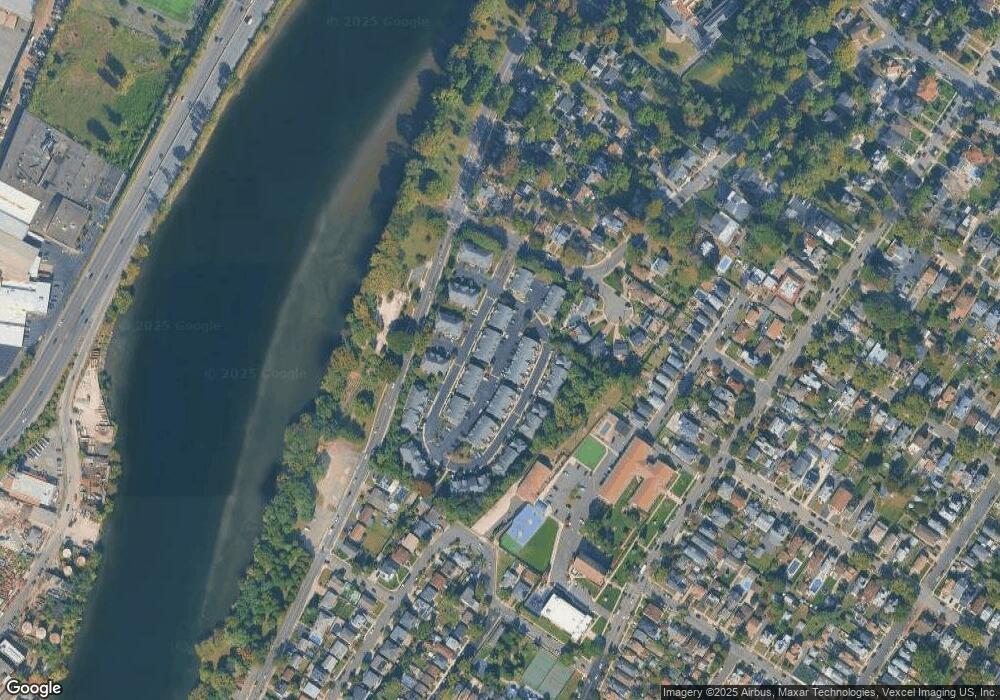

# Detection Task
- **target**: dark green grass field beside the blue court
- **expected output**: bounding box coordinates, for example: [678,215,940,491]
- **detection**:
[519,515,560,572]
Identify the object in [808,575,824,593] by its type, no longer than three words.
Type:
swimming pool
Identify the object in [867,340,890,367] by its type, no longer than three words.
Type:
house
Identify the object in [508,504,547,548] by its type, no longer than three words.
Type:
basketball court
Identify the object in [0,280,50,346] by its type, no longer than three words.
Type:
building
